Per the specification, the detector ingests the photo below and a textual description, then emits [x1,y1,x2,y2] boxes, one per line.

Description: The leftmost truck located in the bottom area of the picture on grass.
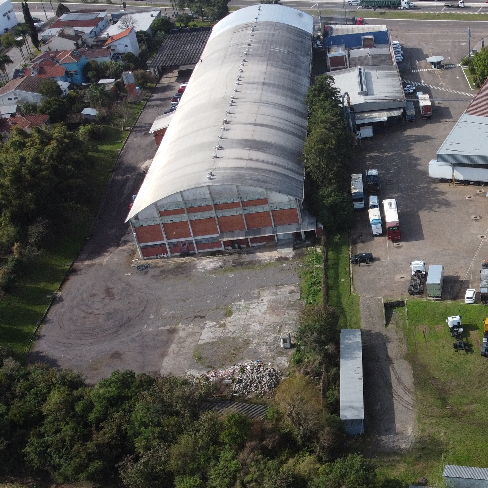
[443,314,471,354]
